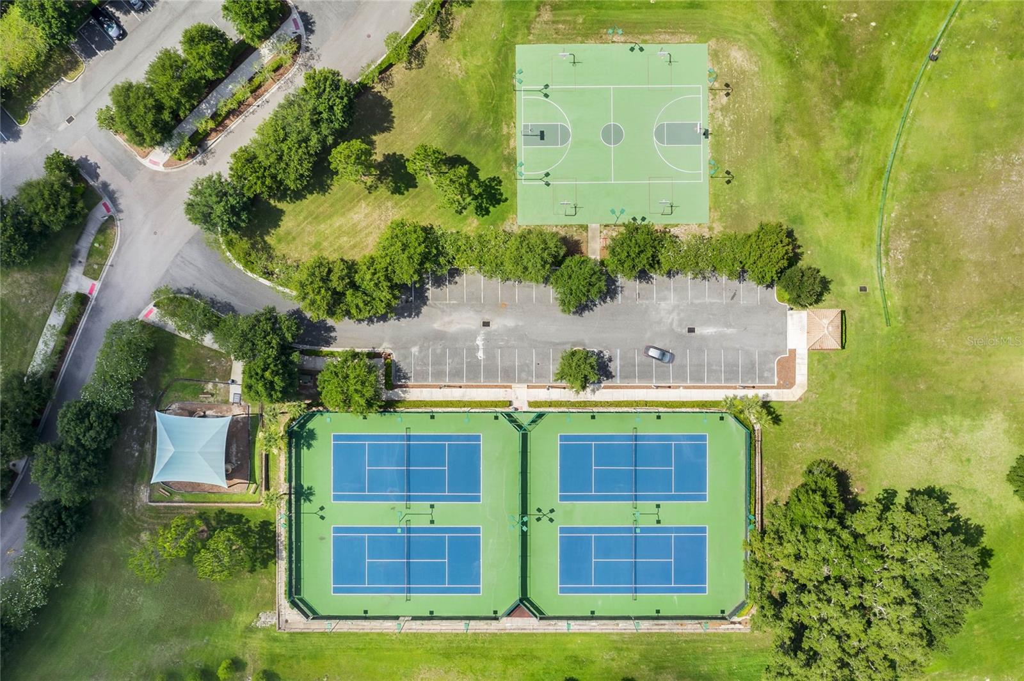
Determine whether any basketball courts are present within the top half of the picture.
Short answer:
Yes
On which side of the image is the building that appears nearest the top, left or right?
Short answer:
right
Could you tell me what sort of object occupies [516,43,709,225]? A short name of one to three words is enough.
basketball court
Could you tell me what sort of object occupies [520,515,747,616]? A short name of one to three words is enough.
tennis court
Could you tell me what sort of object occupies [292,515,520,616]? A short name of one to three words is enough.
tennis court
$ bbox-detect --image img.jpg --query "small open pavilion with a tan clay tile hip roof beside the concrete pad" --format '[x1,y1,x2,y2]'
[804,309,842,350]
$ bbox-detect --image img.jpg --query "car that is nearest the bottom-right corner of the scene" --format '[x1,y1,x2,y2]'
[644,346,675,363]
